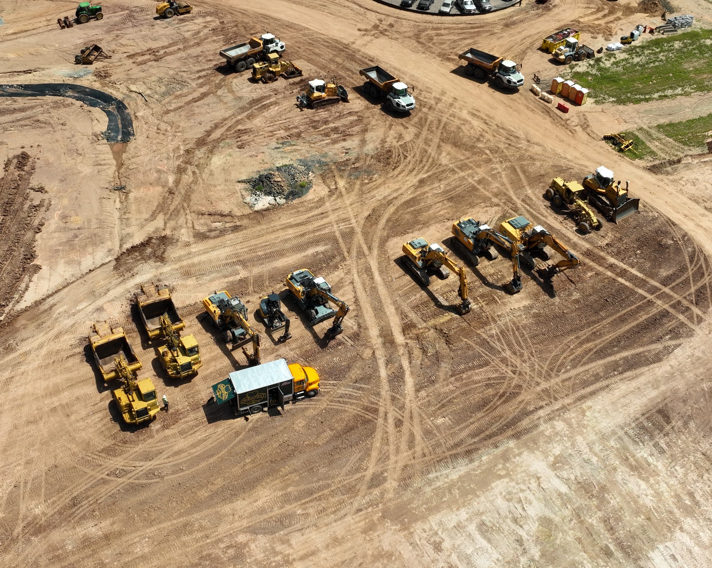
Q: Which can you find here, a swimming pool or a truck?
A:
truck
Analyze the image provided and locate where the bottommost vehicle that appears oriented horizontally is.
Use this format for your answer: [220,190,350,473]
[209,356,321,414]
